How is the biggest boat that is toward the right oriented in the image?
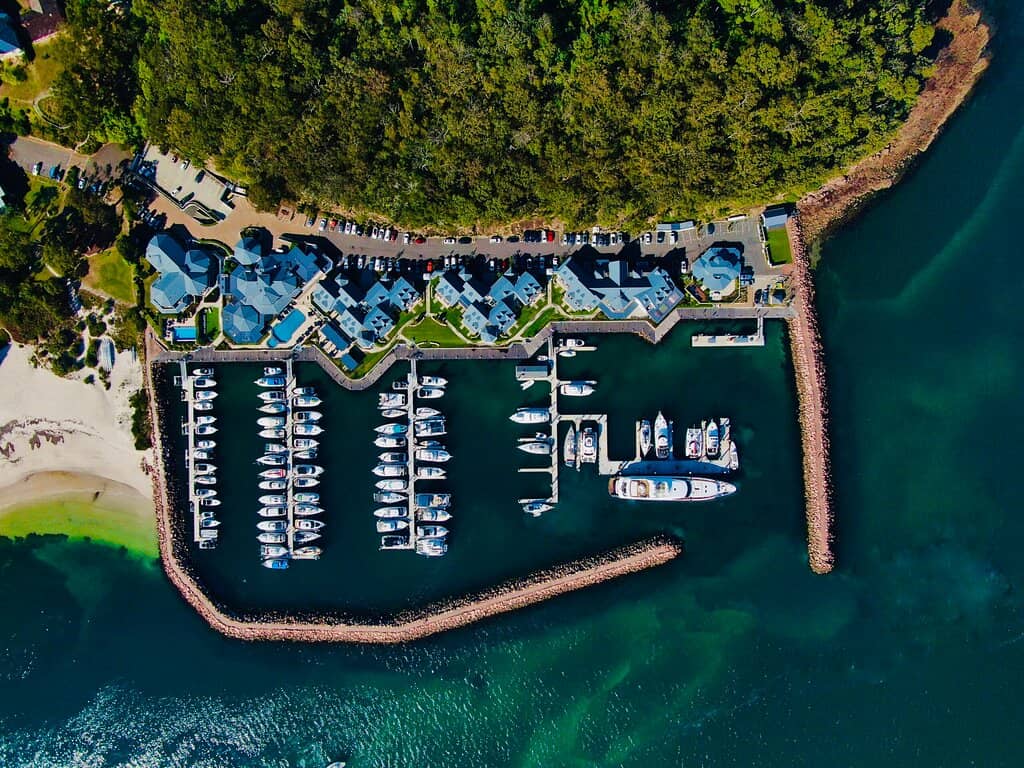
from left to right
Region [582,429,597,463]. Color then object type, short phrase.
white boat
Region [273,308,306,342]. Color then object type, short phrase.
blue swimming pool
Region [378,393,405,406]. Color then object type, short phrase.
white boat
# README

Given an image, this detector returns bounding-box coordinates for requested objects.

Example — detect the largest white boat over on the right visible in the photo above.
[607,474,737,501]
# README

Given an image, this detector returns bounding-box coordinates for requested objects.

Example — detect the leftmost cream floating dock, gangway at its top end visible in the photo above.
[175,360,215,542]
